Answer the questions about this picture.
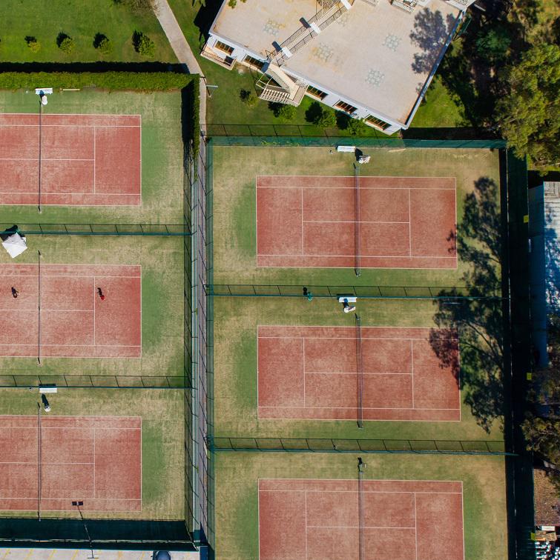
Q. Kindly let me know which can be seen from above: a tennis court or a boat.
tennis court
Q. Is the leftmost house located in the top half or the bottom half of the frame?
top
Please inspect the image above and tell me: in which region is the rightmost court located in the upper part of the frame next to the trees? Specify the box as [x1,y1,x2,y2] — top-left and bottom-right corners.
[207,146,510,298]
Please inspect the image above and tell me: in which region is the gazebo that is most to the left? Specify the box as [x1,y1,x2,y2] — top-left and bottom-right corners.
[2,232,29,263]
